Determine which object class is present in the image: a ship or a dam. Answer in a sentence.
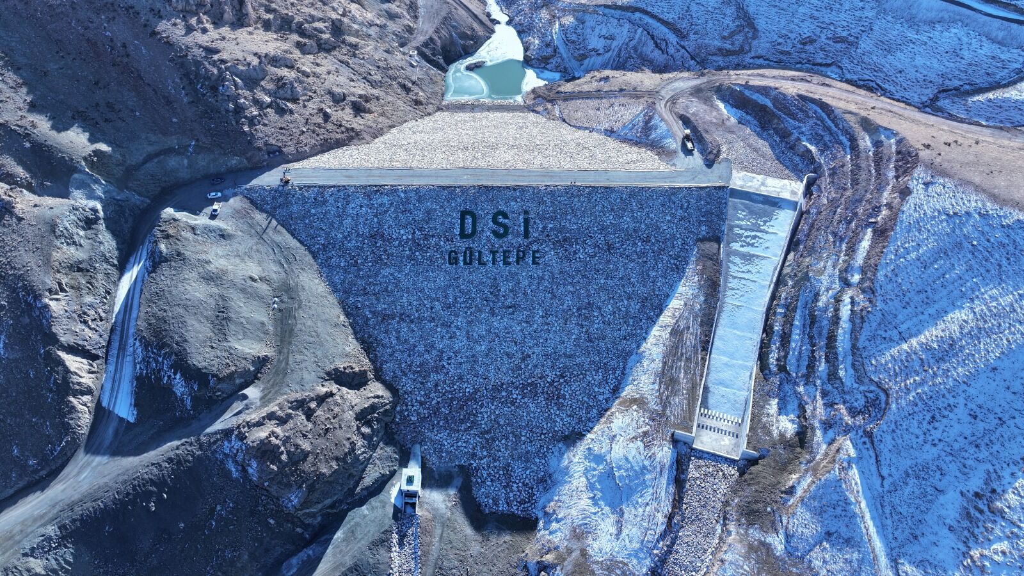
This aerial view contains a dam.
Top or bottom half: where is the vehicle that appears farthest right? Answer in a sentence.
The top half of the photo is where the vehicle that appears farthest right is.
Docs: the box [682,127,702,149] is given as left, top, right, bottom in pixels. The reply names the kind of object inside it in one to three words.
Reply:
vehicle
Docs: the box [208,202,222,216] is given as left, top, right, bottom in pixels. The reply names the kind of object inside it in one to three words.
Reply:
vehicle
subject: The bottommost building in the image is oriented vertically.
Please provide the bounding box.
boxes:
[399,422,422,524]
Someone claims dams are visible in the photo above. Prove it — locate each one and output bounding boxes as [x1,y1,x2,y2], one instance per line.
[238,103,736,521]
